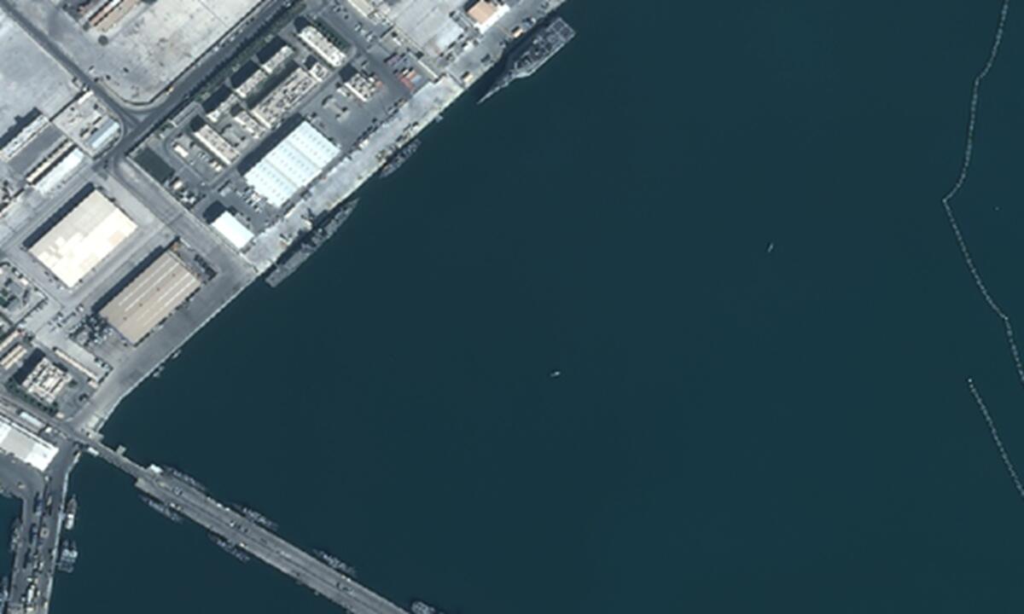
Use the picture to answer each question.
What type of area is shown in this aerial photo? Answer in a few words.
port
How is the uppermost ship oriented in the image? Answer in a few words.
at an angle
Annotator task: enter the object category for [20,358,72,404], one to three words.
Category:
building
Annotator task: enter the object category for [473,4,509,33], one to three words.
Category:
building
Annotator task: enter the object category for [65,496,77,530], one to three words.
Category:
boat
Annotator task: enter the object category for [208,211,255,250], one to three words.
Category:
shed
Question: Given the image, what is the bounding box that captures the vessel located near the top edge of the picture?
[476,17,575,103]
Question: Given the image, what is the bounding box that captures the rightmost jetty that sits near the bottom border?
[136,469,408,614]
